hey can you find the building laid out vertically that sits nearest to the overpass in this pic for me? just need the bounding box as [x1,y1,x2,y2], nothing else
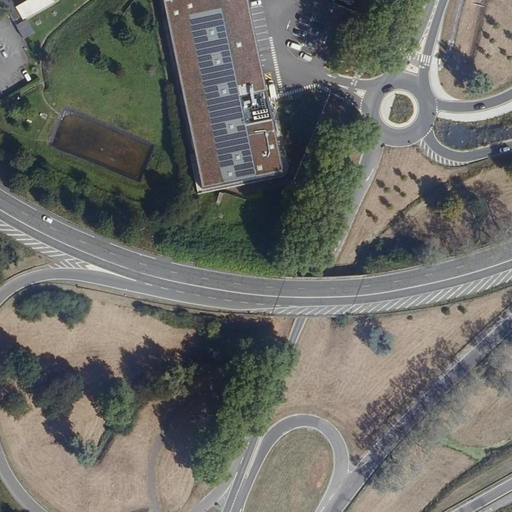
[164,0,284,194]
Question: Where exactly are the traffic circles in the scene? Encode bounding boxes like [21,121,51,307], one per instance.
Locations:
[363,72,436,146]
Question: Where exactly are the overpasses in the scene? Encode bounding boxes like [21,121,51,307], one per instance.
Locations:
[272,274,364,318]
